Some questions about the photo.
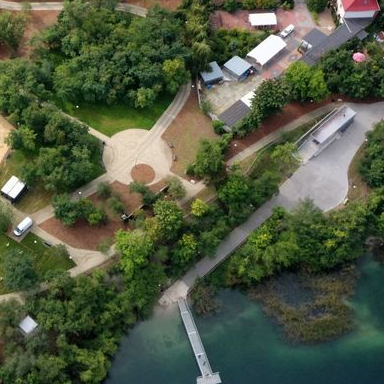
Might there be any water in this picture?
Yes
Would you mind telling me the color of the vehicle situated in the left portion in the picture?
white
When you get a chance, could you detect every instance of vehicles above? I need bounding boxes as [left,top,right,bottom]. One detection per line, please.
[13,213,33,235]
[280,21,295,36]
